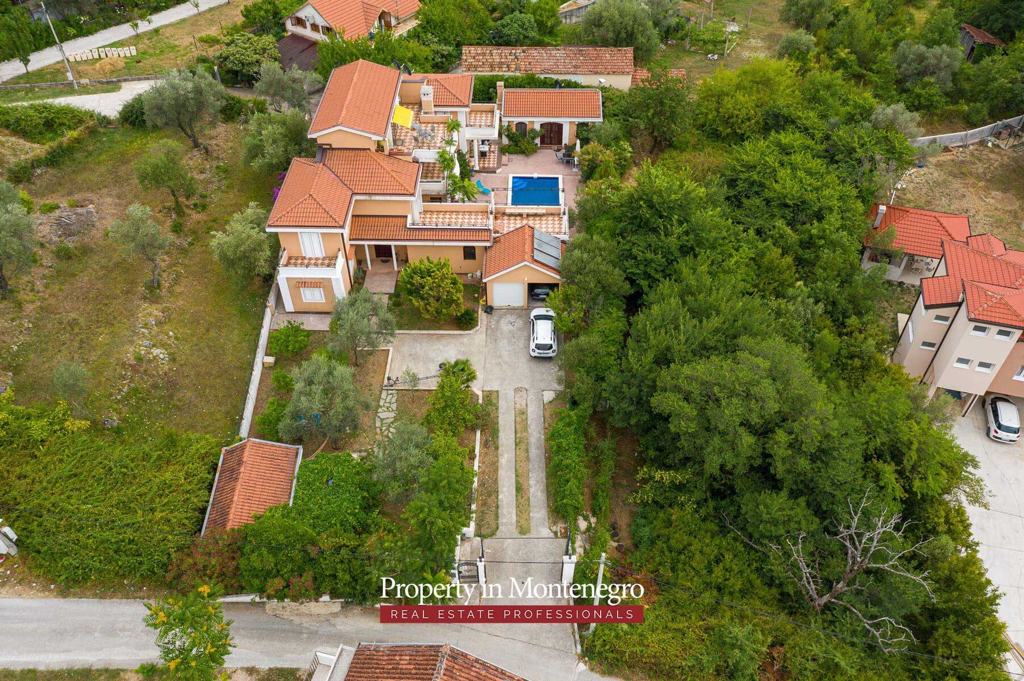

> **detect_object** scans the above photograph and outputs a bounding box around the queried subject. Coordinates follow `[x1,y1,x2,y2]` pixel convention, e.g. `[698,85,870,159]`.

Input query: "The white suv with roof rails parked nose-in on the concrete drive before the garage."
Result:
[526,310,558,355]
